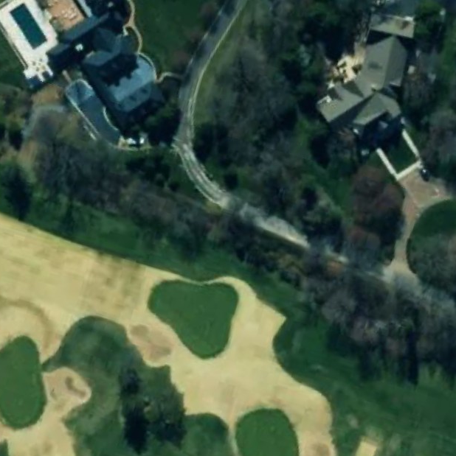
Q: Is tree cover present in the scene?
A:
Yes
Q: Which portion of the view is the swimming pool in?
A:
top left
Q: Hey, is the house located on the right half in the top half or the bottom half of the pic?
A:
top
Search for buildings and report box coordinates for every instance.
[313,0,421,134]
[44,0,159,112]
